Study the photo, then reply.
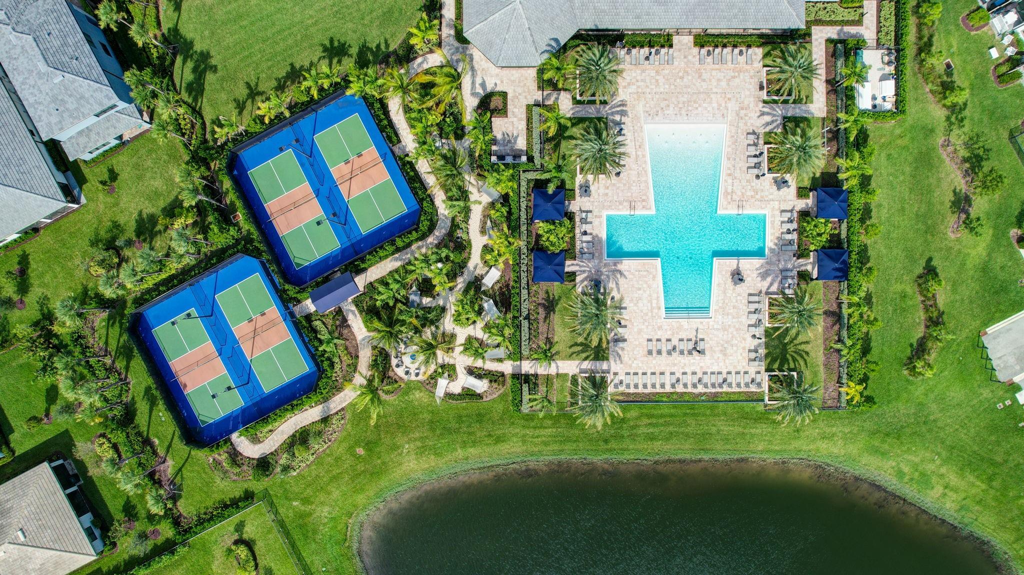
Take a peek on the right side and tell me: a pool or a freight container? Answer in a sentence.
You can see a pool on the right side.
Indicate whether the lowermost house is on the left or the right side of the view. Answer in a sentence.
It is on the left.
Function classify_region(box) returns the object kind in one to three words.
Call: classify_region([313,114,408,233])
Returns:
sports court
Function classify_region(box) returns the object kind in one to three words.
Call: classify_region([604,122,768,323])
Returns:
swimming pool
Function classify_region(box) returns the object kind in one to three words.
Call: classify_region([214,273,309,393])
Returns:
sports court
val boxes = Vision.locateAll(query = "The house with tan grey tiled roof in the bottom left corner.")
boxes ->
[0,457,117,575]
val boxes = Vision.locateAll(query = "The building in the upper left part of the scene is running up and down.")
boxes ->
[0,64,79,243]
